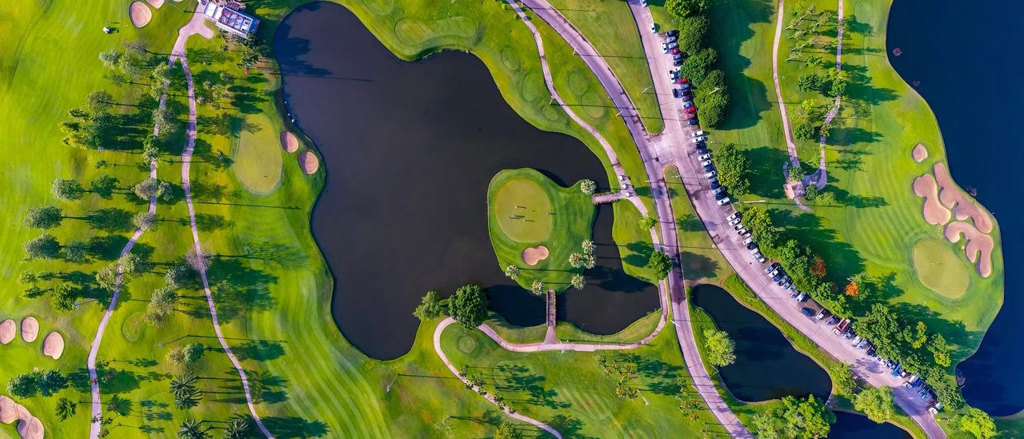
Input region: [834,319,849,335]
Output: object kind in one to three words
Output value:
vehicle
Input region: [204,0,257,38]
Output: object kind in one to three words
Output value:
building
